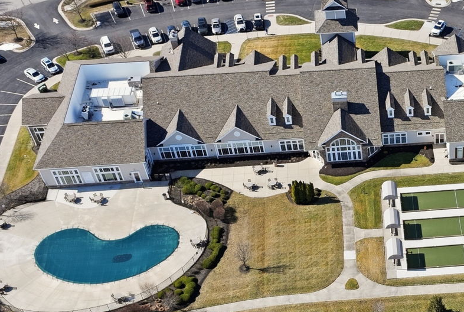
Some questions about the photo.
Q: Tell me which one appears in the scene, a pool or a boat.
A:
pool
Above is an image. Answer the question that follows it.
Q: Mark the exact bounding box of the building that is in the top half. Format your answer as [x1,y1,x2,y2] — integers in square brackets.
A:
[21,0,464,187]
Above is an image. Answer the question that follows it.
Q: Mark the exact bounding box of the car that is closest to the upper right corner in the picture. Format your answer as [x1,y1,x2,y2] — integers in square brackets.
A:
[430,19,445,38]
